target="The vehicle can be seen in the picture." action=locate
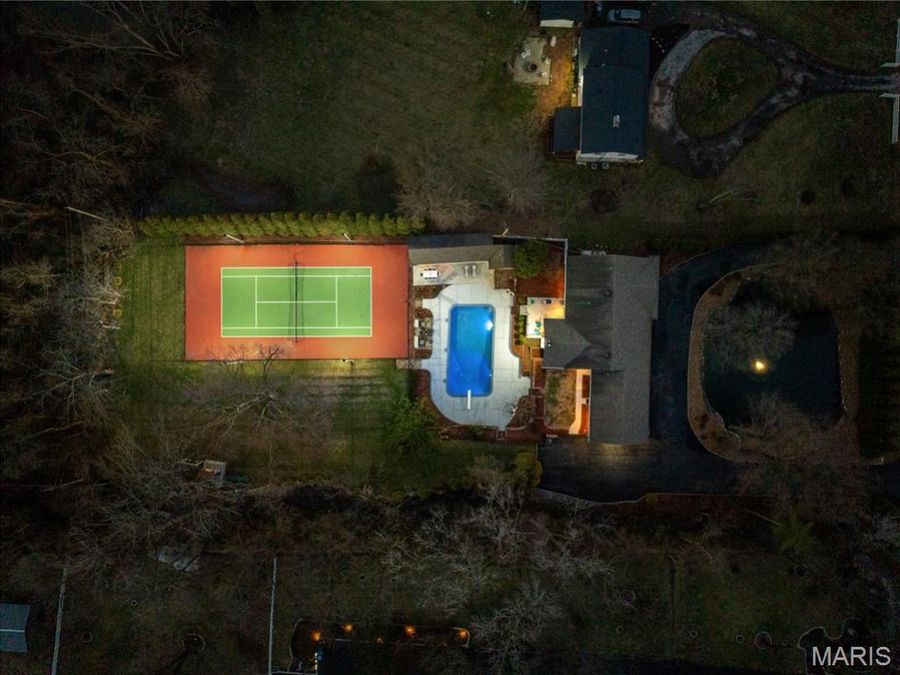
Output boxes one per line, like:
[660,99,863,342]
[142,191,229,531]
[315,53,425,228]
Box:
[610,5,642,21]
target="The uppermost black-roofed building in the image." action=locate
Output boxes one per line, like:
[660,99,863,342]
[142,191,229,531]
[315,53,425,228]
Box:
[540,0,584,30]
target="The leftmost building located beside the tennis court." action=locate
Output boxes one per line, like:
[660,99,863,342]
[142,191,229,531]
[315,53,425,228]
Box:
[408,233,500,267]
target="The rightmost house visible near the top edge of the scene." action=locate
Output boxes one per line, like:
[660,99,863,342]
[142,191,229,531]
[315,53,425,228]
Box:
[577,25,650,163]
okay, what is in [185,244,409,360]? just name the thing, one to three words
tennis court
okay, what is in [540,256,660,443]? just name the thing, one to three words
house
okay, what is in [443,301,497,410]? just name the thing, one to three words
swimming pool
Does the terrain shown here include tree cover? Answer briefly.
Yes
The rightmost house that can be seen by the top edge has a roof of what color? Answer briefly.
black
